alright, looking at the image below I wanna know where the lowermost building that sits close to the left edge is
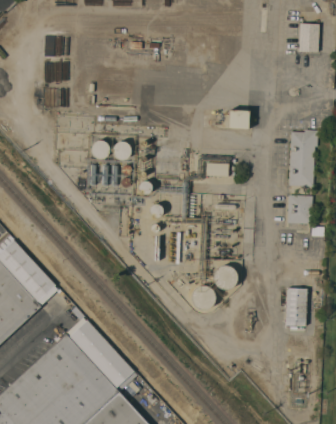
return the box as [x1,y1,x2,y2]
[0,334,118,424]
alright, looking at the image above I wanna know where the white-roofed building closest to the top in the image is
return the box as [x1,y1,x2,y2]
[300,24,320,52]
